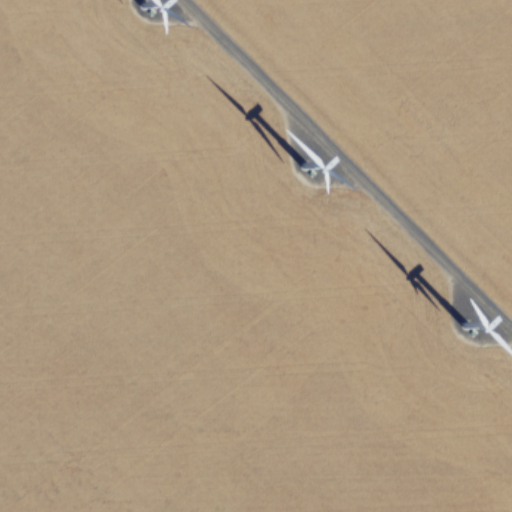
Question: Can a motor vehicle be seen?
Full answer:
No, there's no motor vehicle here.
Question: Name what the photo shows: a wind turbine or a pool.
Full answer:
Looking from above, you can make out a wind turbine.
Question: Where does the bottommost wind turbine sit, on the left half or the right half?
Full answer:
It is on the right.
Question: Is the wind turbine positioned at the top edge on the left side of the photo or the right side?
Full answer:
The wind turbine positioned at the top edge appears in the left half of the scene.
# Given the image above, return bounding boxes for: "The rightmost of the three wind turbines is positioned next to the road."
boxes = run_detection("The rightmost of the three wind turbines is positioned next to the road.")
[460,300,512,354]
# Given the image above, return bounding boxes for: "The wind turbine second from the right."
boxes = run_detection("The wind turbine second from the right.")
[287,128,358,193]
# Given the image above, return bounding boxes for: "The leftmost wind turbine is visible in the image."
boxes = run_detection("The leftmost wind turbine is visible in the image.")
[138,0,194,32]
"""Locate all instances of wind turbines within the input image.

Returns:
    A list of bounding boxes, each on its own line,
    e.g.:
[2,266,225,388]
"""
[138,0,194,32]
[460,300,512,354]
[287,128,358,193]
